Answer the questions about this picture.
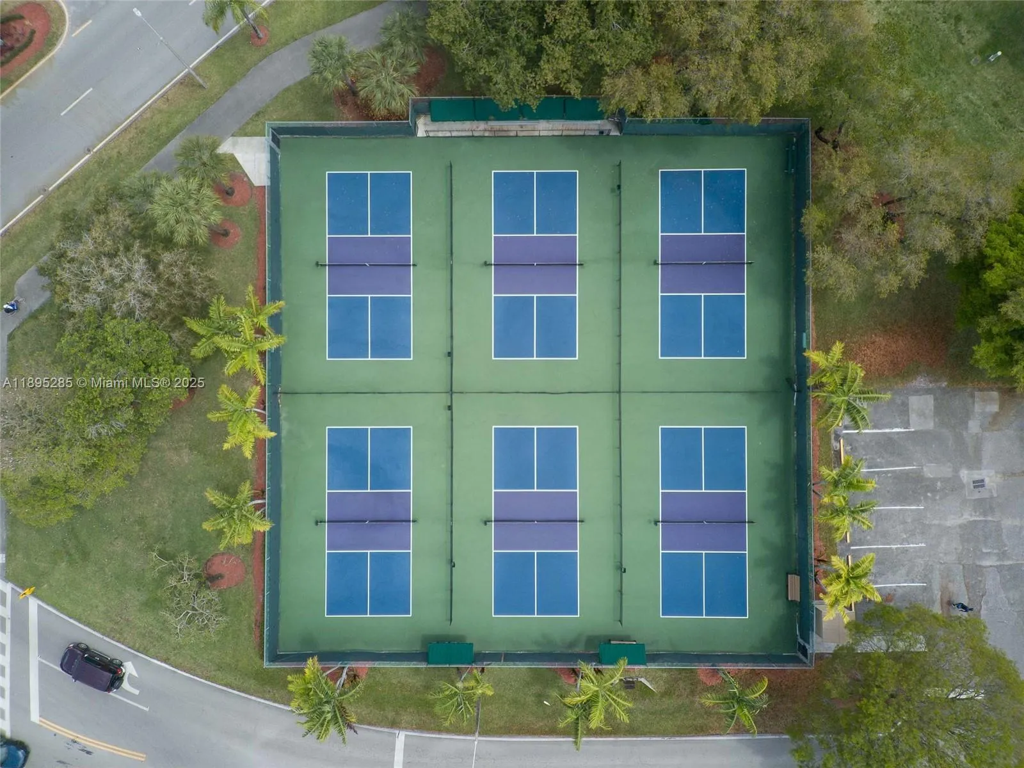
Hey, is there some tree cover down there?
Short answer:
Yes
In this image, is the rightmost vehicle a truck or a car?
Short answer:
car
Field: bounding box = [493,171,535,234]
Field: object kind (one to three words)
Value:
sports court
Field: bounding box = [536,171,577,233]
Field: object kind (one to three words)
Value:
sports court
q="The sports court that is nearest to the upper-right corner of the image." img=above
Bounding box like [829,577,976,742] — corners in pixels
[703,170,745,232]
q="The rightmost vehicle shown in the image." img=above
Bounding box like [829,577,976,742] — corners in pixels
[57,646,127,696]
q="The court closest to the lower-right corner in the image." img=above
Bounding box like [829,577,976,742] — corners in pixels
[705,554,747,617]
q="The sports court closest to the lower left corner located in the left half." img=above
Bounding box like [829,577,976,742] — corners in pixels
[326,552,368,615]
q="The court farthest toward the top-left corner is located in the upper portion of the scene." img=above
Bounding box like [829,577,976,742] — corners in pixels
[327,172,368,234]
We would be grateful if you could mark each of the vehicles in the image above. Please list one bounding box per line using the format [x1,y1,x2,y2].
[0,739,29,768]
[57,646,127,696]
